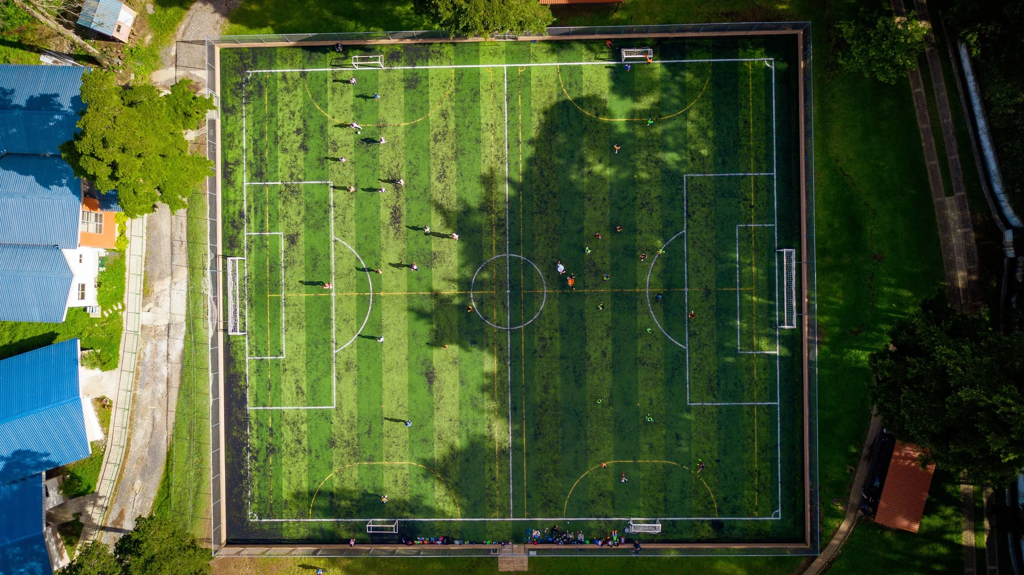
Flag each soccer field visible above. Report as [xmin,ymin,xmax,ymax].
[222,34,806,546]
